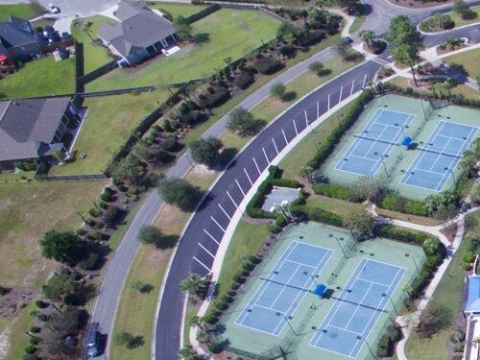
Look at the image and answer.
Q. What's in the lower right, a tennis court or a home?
tennis court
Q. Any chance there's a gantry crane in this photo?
No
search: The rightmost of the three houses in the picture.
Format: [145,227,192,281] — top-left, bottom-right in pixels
[100,1,178,70]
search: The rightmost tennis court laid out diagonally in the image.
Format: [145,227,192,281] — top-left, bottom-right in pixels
[384,106,480,199]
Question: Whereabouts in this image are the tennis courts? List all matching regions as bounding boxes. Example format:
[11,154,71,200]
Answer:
[287,238,426,360]
[222,220,358,358]
[384,106,480,199]
[314,92,434,192]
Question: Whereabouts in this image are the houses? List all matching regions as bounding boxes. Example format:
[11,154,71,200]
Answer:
[100,1,178,70]
[0,18,52,71]
[0,97,73,170]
